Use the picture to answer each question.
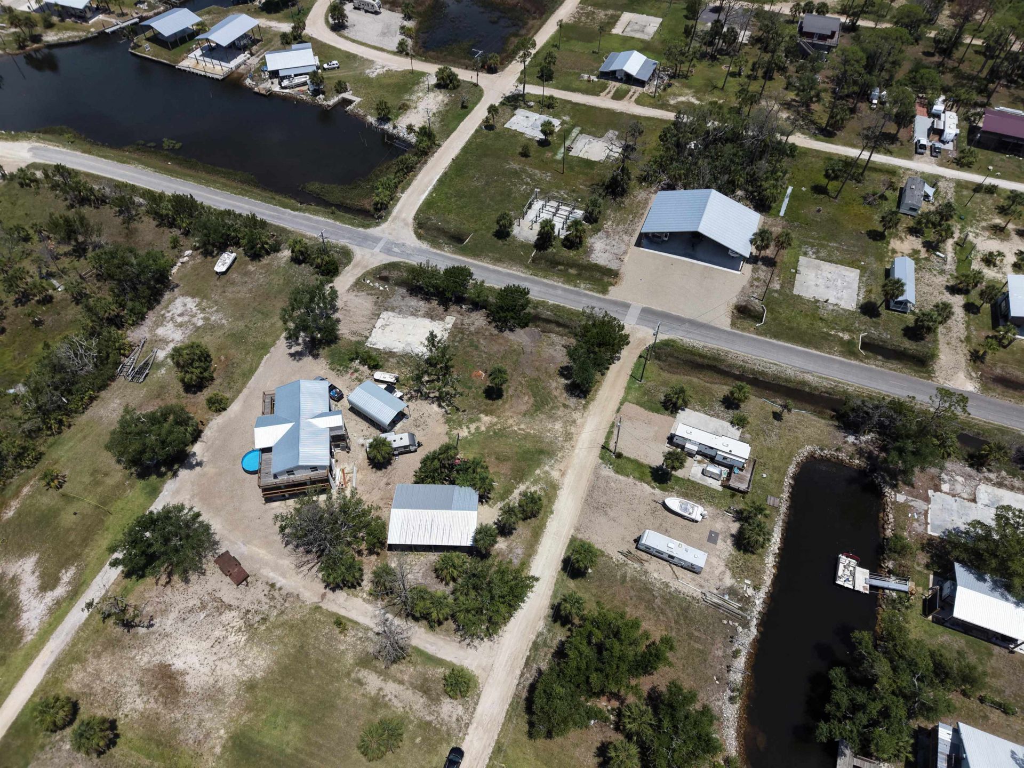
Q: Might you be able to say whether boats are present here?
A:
Yes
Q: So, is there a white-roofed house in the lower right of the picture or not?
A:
Yes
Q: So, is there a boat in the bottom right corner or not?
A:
Yes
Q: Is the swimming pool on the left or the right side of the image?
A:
left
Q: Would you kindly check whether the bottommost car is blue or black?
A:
black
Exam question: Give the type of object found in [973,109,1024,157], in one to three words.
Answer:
barn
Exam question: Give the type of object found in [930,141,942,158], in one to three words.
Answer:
vehicle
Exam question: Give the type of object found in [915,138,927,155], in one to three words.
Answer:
vehicle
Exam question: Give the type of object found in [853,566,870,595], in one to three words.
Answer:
pier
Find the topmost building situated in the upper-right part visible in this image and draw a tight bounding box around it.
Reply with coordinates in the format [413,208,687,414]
[788,13,839,65]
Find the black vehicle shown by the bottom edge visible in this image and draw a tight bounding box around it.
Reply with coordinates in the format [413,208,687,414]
[443,743,467,768]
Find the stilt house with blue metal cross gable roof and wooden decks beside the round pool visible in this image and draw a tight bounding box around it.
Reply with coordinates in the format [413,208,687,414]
[254,380,351,504]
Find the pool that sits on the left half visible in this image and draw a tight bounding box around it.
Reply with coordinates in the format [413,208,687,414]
[237,448,265,476]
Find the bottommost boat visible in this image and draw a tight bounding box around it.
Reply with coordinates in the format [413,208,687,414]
[831,549,858,593]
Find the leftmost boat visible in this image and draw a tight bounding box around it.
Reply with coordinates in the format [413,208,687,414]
[214,249,235,280]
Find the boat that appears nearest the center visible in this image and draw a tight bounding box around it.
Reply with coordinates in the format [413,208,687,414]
[370,372,401,384]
